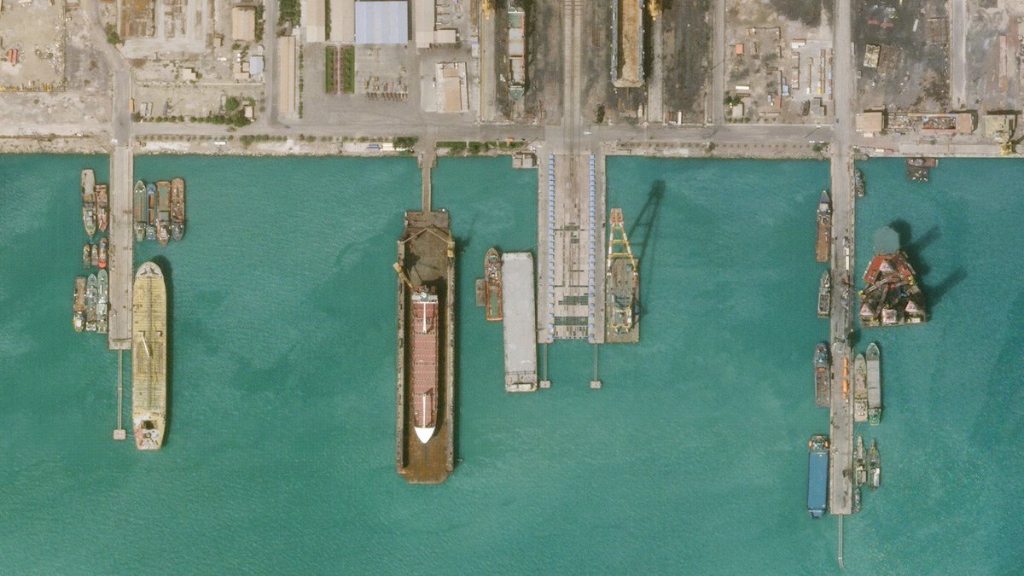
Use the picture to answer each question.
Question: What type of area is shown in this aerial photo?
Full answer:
The area seen from above is a port.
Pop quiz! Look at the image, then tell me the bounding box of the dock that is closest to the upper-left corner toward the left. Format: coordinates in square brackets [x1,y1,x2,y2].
[108,147,134,350]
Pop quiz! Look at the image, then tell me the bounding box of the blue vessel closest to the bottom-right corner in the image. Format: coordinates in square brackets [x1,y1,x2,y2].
[808,435,829,518]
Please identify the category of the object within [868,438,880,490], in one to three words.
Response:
boat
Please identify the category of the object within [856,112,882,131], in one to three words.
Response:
building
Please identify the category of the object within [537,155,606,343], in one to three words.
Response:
pier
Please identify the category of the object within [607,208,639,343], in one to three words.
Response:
crane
